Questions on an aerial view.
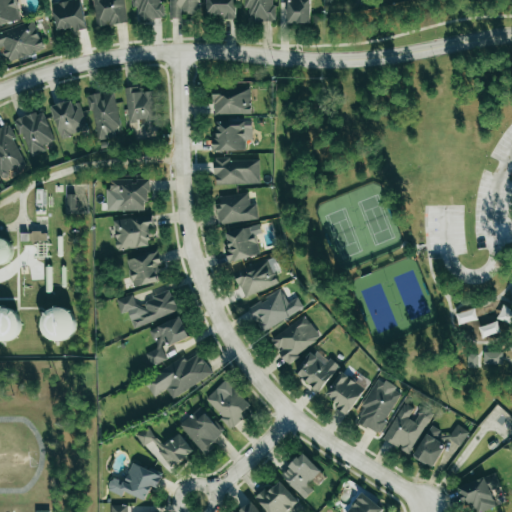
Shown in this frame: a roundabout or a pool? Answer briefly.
pool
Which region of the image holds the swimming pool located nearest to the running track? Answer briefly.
bottom left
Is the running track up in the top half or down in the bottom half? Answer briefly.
bottom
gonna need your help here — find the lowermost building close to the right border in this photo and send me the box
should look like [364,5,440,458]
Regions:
[456,479,502,512]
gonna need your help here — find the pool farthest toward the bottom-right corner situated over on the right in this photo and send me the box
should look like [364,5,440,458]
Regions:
[336,480,358,512]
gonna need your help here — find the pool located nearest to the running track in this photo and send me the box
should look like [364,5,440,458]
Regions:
[106,448,129,474]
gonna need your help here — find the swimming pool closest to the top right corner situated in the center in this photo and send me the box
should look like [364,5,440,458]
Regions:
[258,221,274,250]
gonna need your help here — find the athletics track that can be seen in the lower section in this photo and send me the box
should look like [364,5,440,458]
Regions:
[0,417,44,494]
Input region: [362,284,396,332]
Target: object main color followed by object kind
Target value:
blue sports court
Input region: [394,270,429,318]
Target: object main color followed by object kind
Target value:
blue sports court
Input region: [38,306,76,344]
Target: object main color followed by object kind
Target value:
white storage tank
